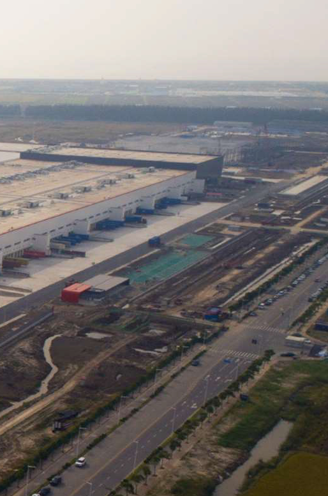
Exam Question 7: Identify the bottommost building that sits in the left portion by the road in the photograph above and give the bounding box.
[61,272,124,302]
